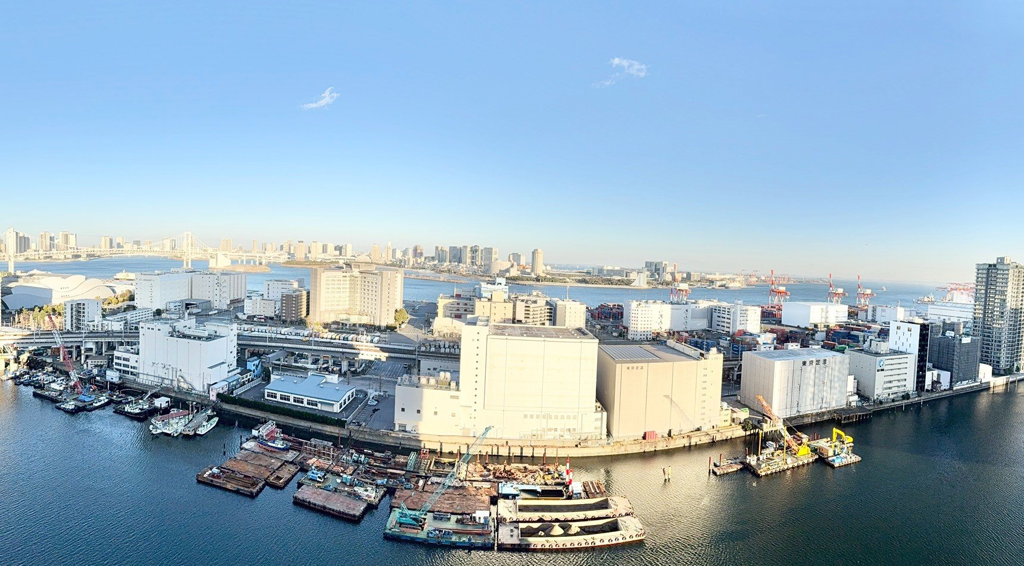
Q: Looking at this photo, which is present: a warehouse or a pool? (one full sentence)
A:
This aerial view contains a warehouse.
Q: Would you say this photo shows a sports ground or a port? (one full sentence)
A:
The picture captures a port.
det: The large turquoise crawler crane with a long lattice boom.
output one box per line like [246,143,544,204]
[392,426,494,531]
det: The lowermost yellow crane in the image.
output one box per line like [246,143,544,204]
[755,395,819,455]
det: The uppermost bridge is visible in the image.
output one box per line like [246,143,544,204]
[0,227,309,272]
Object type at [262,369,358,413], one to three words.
building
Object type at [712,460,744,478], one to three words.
ship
